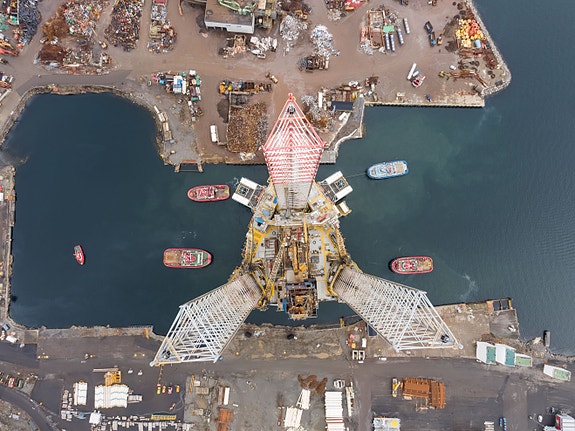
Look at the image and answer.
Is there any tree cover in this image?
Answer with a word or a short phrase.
No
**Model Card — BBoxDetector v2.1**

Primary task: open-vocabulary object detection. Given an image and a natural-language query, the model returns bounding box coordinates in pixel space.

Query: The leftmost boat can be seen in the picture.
[70,245,84,265]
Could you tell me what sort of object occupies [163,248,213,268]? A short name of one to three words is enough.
boat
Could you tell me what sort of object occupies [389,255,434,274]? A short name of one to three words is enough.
boat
